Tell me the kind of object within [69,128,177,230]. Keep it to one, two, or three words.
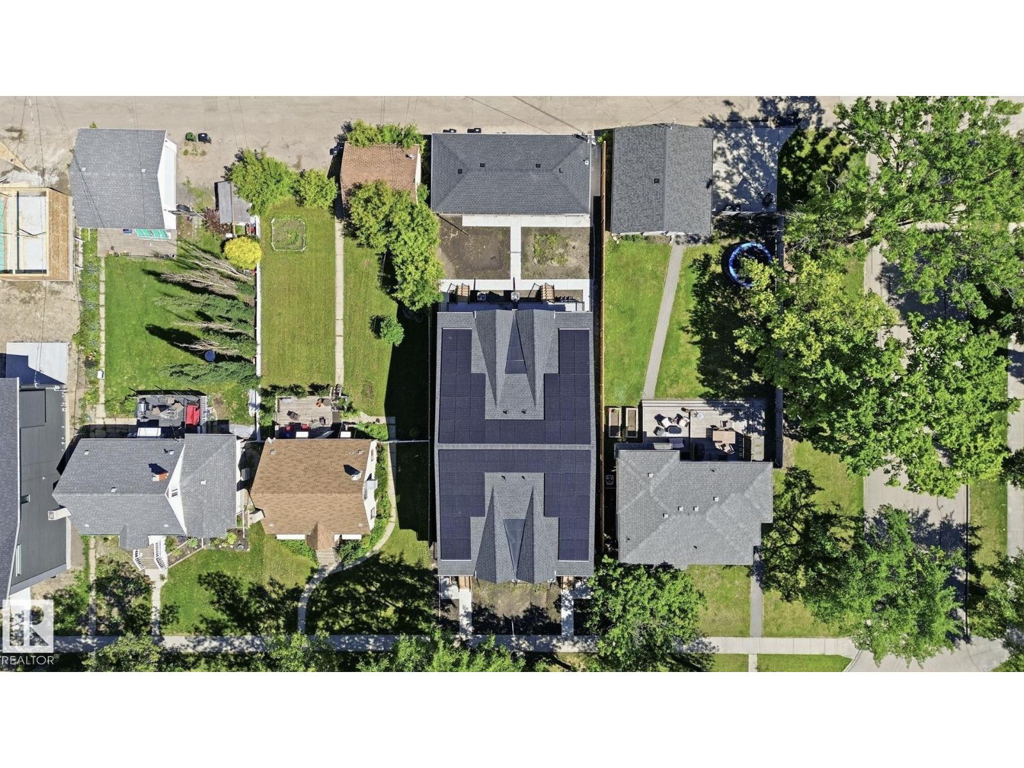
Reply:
building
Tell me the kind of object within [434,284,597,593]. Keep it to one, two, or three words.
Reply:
house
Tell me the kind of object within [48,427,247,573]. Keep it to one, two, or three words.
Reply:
house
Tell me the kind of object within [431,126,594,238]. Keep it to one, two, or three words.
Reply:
building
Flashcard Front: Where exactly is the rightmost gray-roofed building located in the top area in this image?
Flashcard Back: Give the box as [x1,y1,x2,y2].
[610,119,714,238]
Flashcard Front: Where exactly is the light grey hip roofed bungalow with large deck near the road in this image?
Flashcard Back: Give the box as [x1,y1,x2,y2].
[617,443,773,573]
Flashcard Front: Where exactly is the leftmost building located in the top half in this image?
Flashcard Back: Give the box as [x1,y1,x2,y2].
[0,186,69,275]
